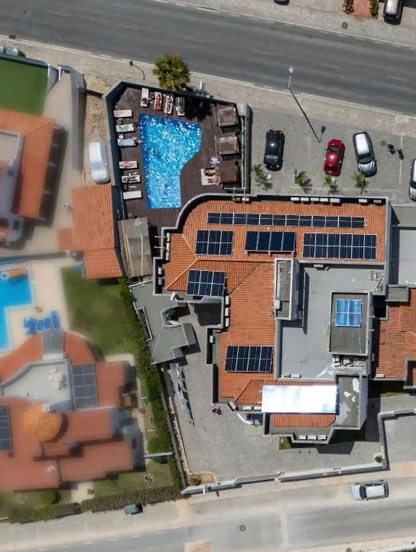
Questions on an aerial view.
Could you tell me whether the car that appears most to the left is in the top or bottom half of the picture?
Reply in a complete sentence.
You can find the car that appears most to the left in the top half.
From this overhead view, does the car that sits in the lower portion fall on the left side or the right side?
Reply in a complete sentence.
You can find the car that sits in the lower portion on the right side of the picture.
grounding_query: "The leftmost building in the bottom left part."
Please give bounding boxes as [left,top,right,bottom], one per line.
[0,331,154,490]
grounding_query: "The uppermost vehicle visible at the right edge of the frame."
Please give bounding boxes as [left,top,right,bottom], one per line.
[383,0,404,28]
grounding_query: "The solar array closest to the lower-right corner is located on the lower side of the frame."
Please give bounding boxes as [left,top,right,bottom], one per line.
[262,385,338,412]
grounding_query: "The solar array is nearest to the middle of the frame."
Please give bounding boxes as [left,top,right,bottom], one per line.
[187,270,227,293]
